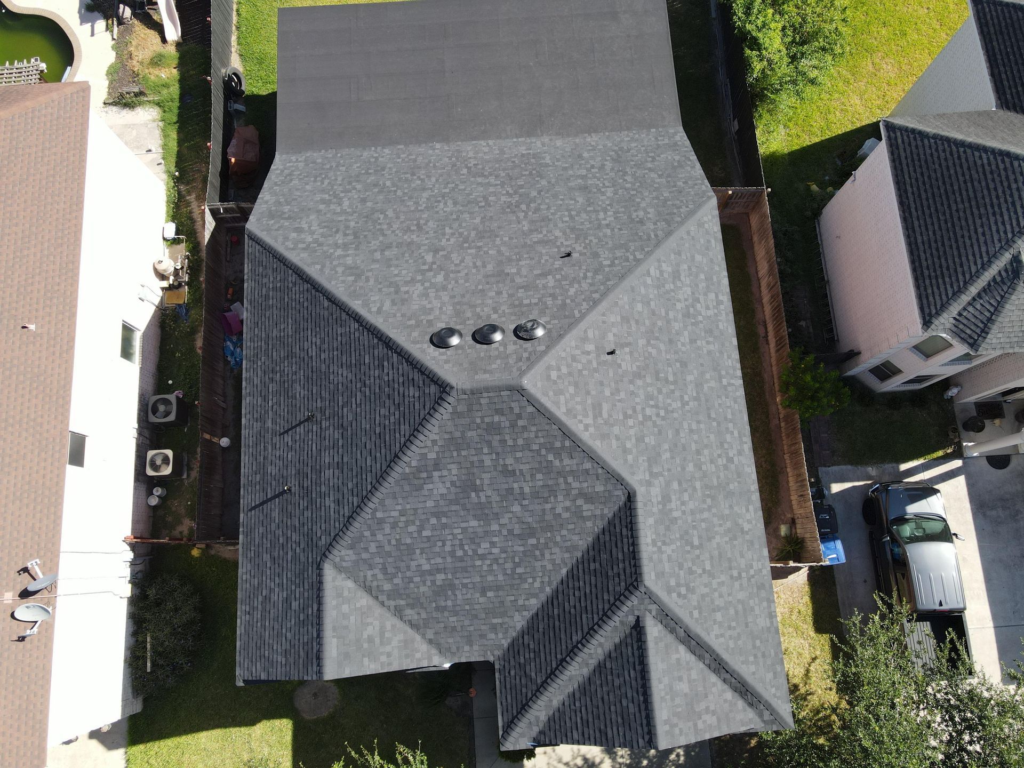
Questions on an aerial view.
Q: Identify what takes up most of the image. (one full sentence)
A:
Most of the picture is covered by buildings.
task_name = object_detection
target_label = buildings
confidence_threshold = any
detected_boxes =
[234,0,797,754]
[0,85,169,768]
[817,0,1024,461]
